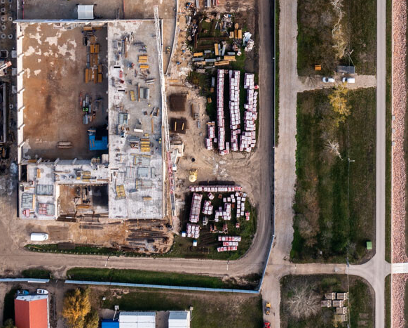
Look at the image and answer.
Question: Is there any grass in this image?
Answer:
Yes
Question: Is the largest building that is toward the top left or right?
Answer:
left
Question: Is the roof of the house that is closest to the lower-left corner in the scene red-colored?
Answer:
Yes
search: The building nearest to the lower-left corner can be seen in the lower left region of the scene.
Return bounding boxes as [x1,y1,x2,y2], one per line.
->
[15,293,49,328]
